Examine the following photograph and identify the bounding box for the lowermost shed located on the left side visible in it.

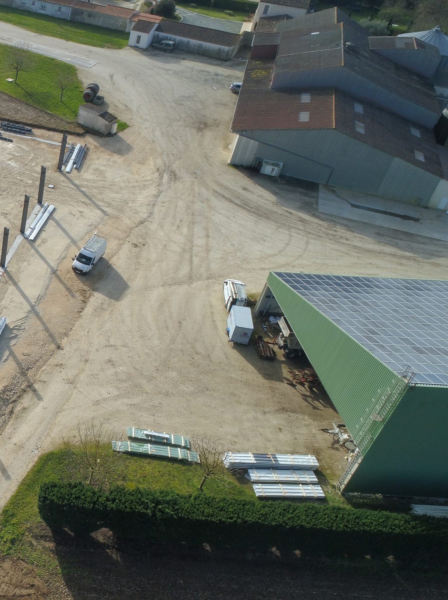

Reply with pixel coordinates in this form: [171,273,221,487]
[78,101,124,135]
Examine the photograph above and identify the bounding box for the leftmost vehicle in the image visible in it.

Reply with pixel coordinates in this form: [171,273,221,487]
[74,234,111,274]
